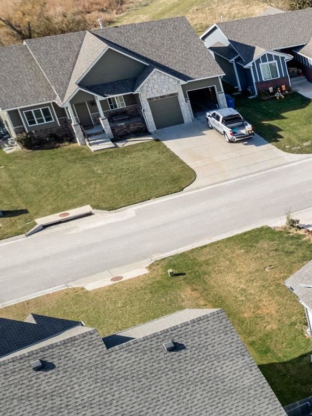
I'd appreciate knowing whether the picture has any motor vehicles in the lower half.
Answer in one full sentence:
No, there's no motor vehicle to be seen in the lower half.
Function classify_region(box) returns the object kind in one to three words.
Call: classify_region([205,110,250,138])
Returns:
truck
